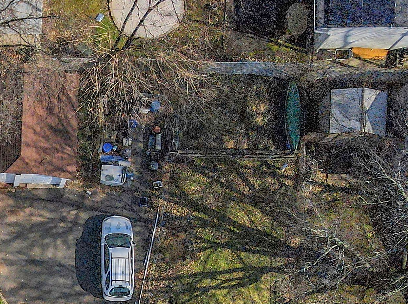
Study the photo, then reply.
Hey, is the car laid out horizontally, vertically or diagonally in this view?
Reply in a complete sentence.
The car has been laid out vertically relative to the frame.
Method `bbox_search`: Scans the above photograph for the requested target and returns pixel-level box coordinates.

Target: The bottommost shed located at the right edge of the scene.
[330,84,396,142]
